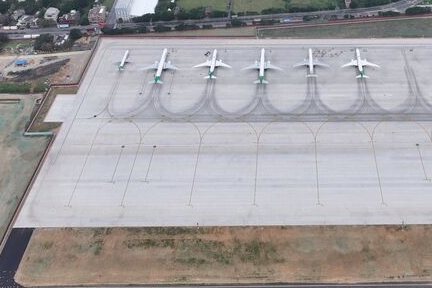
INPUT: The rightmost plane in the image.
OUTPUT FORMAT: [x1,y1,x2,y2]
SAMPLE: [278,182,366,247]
[341,49,380,78]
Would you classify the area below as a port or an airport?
airport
